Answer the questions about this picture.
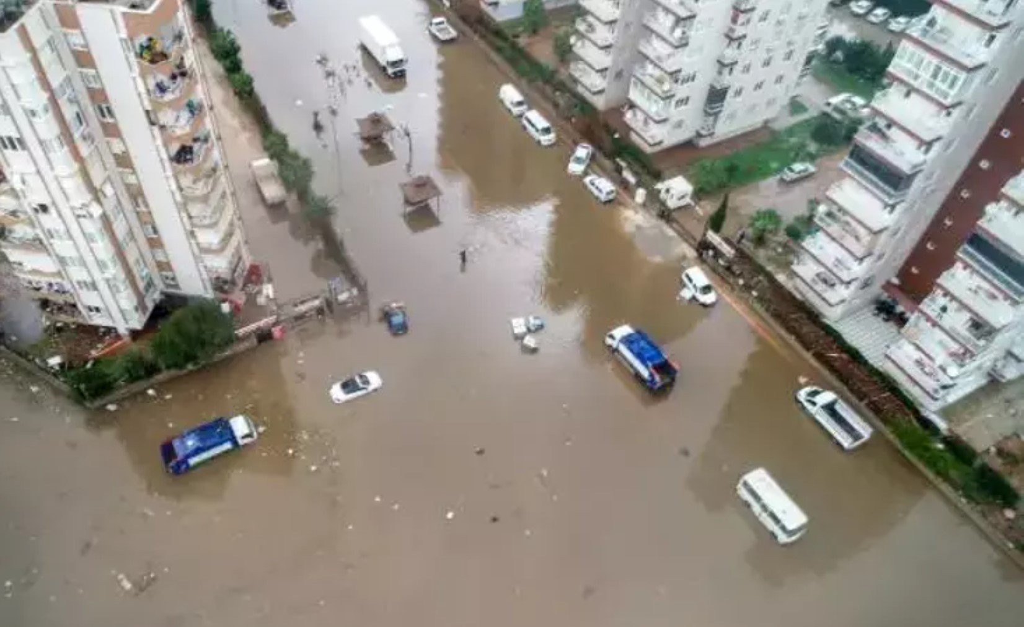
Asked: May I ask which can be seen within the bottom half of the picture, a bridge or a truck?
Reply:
truck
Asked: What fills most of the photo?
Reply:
water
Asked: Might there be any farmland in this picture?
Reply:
No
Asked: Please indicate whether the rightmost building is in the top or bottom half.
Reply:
top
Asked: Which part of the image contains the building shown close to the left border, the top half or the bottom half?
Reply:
top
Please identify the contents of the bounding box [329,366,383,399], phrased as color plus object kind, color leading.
white car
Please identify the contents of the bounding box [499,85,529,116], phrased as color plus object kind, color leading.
white vehicle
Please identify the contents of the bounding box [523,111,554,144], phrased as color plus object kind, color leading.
white van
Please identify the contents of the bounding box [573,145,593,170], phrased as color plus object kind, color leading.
white car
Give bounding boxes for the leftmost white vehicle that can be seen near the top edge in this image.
[359,20,408,76]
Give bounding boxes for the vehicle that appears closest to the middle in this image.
[382,306,410,337]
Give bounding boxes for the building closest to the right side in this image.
[782,0,1024,411]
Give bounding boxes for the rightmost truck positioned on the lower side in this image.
[802,390,872,451]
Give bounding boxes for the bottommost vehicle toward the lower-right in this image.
[736,472,804,544]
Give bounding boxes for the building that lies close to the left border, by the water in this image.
[0,0,263,353]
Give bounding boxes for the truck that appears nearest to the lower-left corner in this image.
[157,416,253,481]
